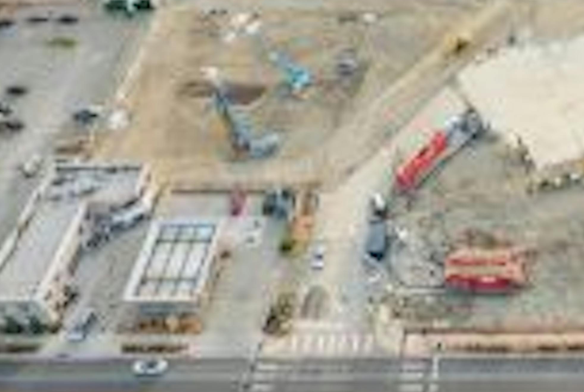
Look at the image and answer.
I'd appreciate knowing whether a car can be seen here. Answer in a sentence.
Yes, the picture does show a car.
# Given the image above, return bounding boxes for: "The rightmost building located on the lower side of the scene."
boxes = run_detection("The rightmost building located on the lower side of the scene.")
[123,220,228,323]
